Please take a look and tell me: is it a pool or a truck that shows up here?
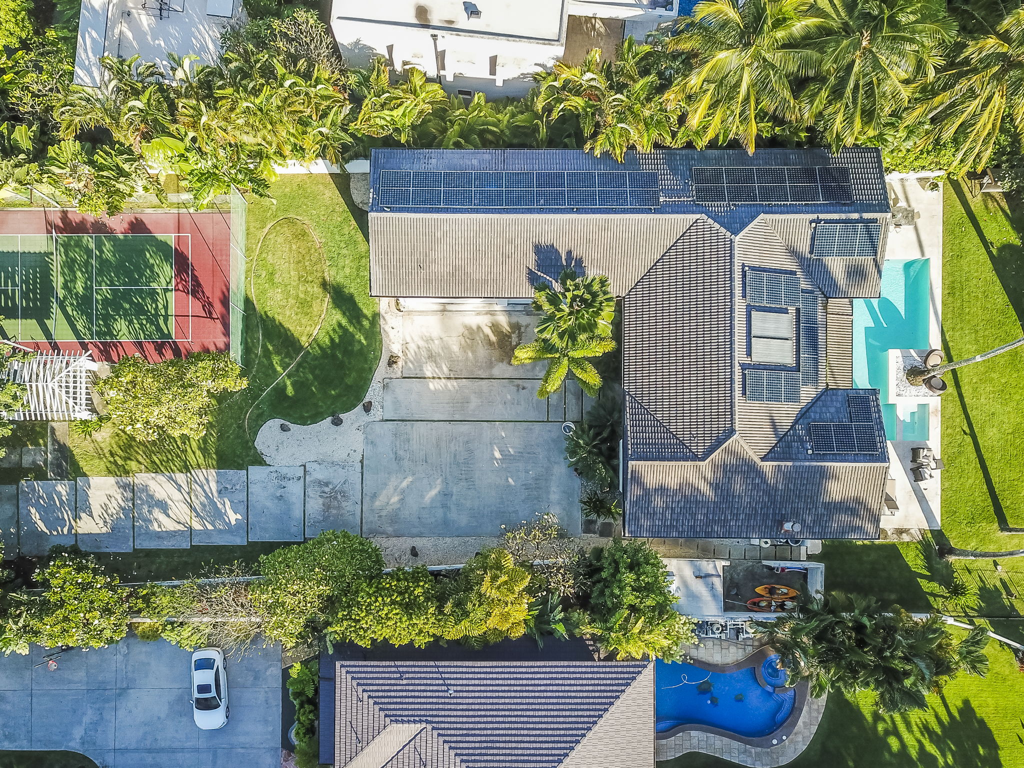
pool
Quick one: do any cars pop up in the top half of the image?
No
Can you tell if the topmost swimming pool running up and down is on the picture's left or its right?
right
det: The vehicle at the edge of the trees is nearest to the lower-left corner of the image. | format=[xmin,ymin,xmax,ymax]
[185,649,229,734]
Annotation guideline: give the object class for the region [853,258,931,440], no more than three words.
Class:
swimming pool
